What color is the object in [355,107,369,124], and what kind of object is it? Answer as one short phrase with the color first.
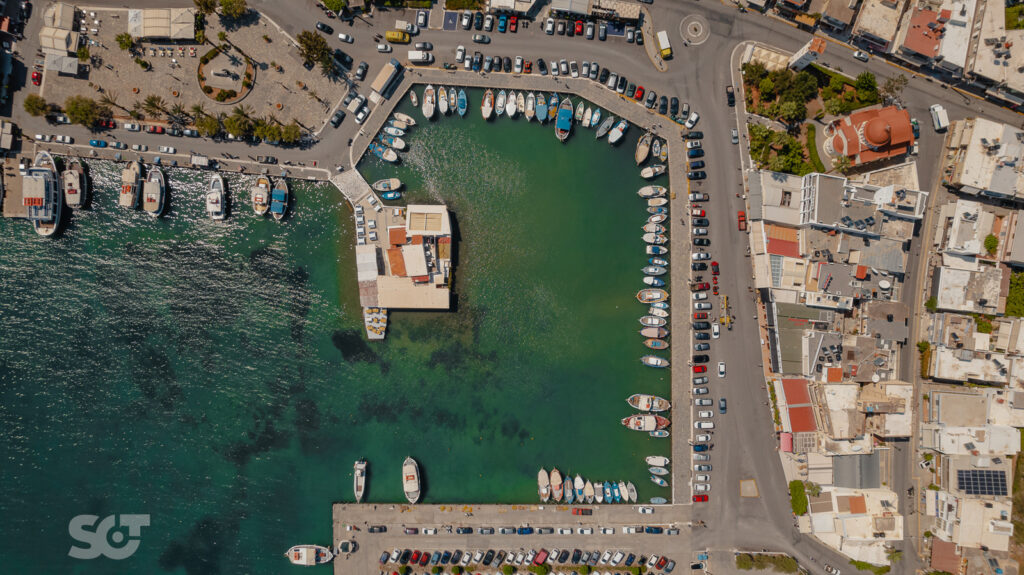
white car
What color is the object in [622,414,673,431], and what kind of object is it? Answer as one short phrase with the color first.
white boat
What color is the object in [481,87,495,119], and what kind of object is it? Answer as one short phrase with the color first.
white boat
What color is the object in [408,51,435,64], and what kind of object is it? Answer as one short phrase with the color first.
white vehicle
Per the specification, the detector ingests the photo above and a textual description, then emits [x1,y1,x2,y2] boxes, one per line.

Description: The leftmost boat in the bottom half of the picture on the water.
[284,544,332,566]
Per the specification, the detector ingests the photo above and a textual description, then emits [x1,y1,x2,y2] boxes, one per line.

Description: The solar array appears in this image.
[957,470,1007,495]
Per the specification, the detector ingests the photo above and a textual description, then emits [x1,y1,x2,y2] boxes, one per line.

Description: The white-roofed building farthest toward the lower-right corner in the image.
[951,494,1017,551]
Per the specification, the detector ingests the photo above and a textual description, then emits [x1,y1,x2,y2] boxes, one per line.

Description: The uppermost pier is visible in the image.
[365,308,387,339]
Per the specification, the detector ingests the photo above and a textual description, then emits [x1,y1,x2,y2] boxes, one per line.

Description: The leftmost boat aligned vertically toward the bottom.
[354,459,366,503]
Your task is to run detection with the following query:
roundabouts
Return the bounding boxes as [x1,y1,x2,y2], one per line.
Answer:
[680,14,710,45]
